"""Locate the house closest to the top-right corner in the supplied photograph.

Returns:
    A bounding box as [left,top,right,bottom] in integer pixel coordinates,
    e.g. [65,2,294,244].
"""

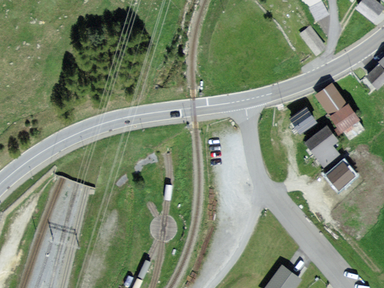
[355,0,384,24]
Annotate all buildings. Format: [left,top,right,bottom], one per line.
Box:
[322,158,360,194]
[309,1,330,22]
[315,83,346,114]
[305,126,346,168]
[365,64,384,90]
[328,104,360,134]
[299,26,326,56]
[290,107,317,134]
[355,0,384,24]
[266,265,302,288]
